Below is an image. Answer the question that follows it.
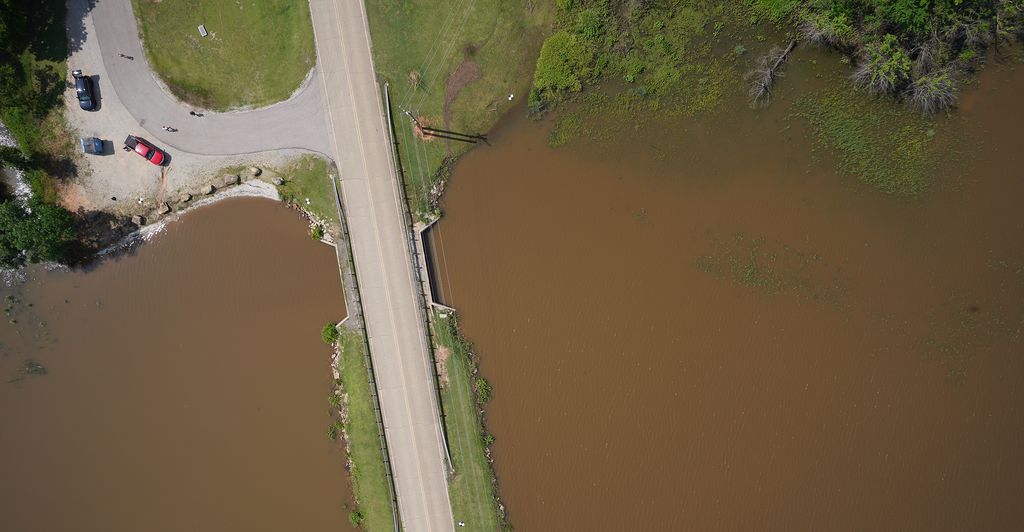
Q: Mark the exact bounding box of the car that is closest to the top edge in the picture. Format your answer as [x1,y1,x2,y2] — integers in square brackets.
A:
[72,66,95,111]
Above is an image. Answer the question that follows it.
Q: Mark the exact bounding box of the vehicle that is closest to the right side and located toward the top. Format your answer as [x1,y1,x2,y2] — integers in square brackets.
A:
[124,135,167,166]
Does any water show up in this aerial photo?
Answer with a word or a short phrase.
Yes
